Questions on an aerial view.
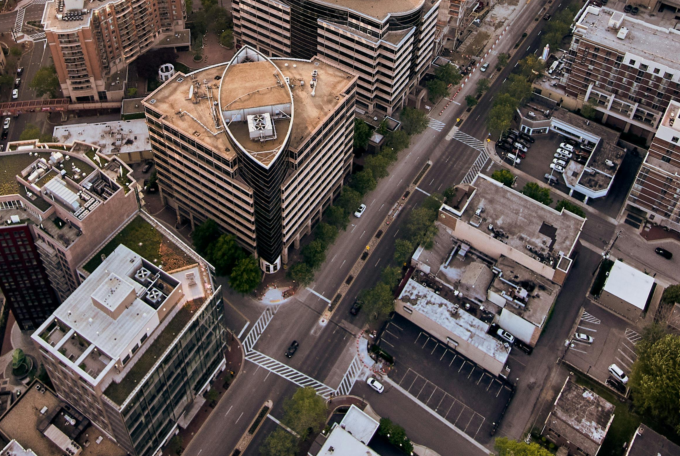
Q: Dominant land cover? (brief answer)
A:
buildings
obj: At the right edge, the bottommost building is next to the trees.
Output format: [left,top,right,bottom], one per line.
[624,423,680,456]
